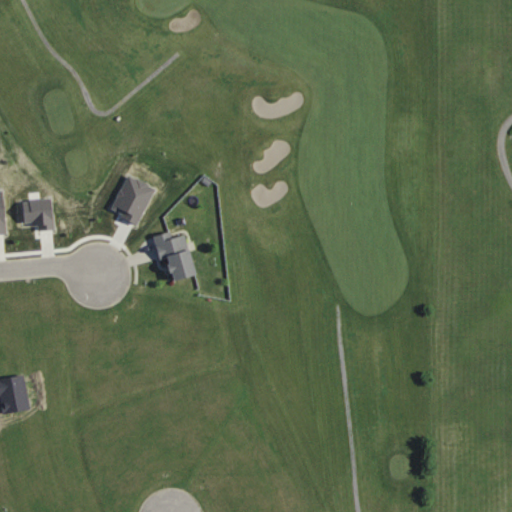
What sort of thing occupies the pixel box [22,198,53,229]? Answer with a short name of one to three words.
house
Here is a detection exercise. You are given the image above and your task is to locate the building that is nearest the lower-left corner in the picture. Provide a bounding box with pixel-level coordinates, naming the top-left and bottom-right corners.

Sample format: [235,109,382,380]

[0,376,29,415]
